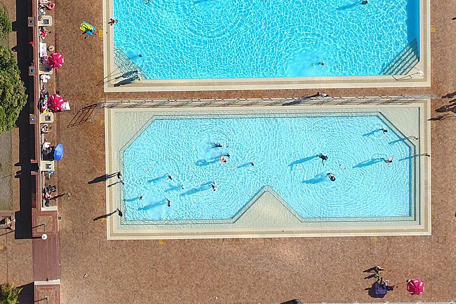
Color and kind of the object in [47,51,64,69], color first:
pink umbrella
